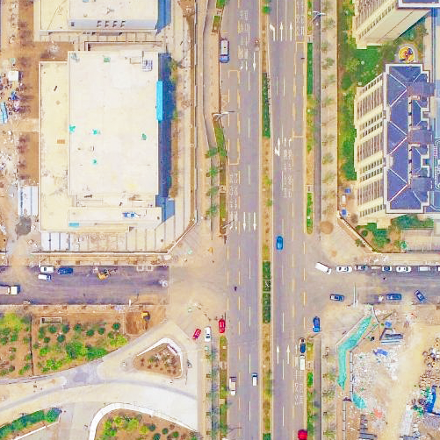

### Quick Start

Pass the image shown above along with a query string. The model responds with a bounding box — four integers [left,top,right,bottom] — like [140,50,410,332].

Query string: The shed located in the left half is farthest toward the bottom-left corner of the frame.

[41,233,70,250]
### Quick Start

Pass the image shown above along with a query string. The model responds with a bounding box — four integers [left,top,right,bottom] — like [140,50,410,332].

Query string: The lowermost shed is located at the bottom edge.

[397,406,413,438]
